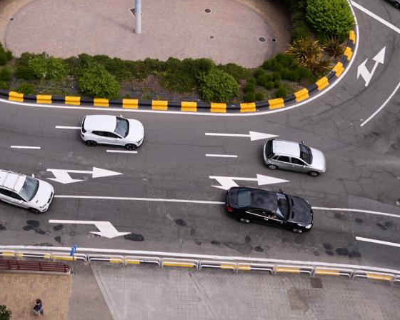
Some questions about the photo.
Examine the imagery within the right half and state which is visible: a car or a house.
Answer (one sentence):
What appears within the right half is a car.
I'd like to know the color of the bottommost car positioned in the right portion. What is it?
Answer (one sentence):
In this view, the bottommost car positioned in the right portion is black.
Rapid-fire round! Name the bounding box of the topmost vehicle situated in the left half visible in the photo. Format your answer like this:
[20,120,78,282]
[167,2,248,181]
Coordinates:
[79,119,145,154]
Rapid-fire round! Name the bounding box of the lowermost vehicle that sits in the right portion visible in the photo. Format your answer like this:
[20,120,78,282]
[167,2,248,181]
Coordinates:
[225,188,314,237]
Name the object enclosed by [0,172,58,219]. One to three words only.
car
